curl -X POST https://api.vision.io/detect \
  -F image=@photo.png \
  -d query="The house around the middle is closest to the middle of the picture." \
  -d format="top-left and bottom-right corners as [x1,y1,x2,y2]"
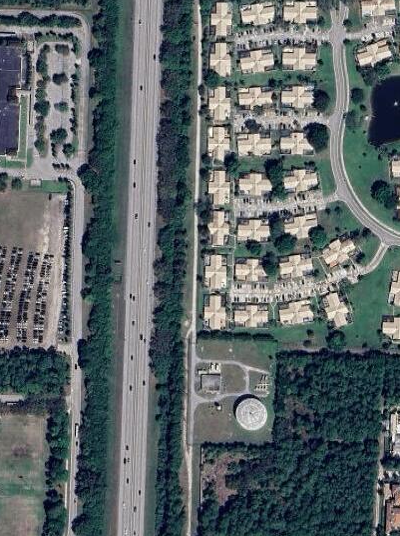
[204,255,227,289]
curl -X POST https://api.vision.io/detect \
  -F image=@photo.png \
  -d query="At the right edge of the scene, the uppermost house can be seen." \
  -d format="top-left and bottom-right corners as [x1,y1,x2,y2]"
[359,0,394,16]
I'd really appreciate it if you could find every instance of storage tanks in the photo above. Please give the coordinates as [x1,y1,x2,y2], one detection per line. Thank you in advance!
[235,397,267,430]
